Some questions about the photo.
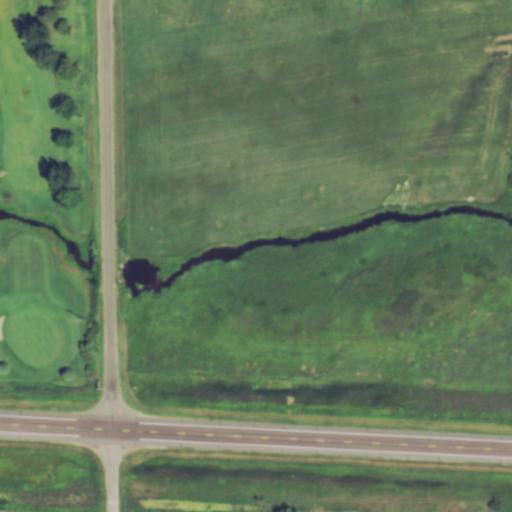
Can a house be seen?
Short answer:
No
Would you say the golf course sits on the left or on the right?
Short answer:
left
